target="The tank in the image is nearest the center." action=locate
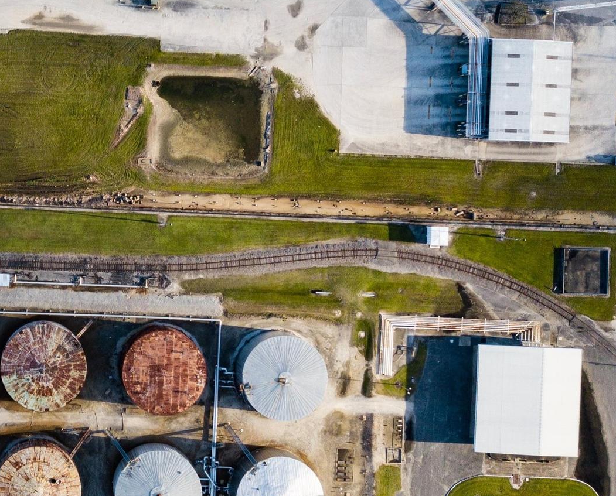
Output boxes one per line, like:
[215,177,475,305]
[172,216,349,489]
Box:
[236,330,328,421]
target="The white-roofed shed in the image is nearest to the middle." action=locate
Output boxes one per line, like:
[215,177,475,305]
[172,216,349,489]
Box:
[426,227,449,249]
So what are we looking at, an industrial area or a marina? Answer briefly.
industrial area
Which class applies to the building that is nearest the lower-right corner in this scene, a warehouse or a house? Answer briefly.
warehouse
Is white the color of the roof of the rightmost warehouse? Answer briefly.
Yes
